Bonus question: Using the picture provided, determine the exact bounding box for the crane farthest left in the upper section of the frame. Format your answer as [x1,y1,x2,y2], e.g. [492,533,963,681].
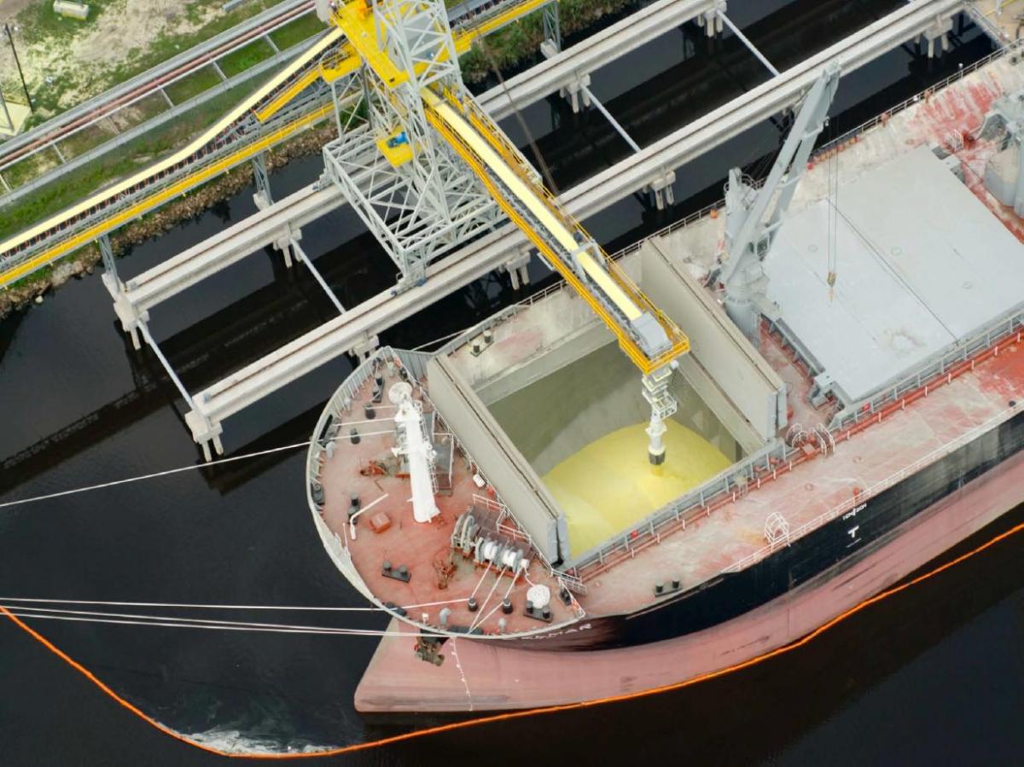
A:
[706,57,842,359]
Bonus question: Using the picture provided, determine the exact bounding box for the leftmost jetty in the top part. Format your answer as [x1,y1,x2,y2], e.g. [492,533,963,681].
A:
[102,0,970,462]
